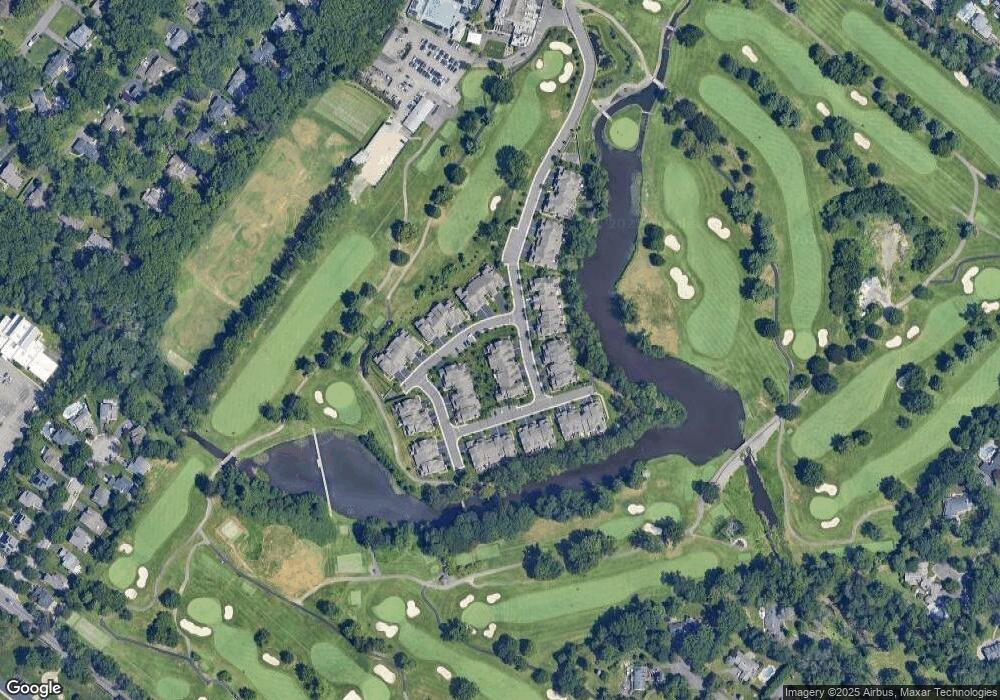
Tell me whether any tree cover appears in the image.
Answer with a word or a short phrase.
Yes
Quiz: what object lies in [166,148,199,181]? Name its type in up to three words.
house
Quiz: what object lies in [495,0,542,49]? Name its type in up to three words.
building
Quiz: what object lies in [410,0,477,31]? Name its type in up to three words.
building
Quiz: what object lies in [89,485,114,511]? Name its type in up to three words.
house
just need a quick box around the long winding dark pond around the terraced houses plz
[236,79,744,522]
